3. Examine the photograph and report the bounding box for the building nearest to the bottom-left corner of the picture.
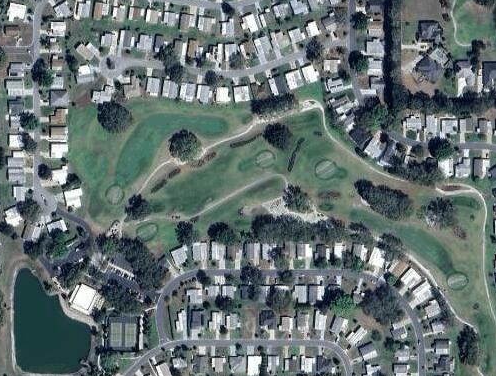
[68,283,103,313]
